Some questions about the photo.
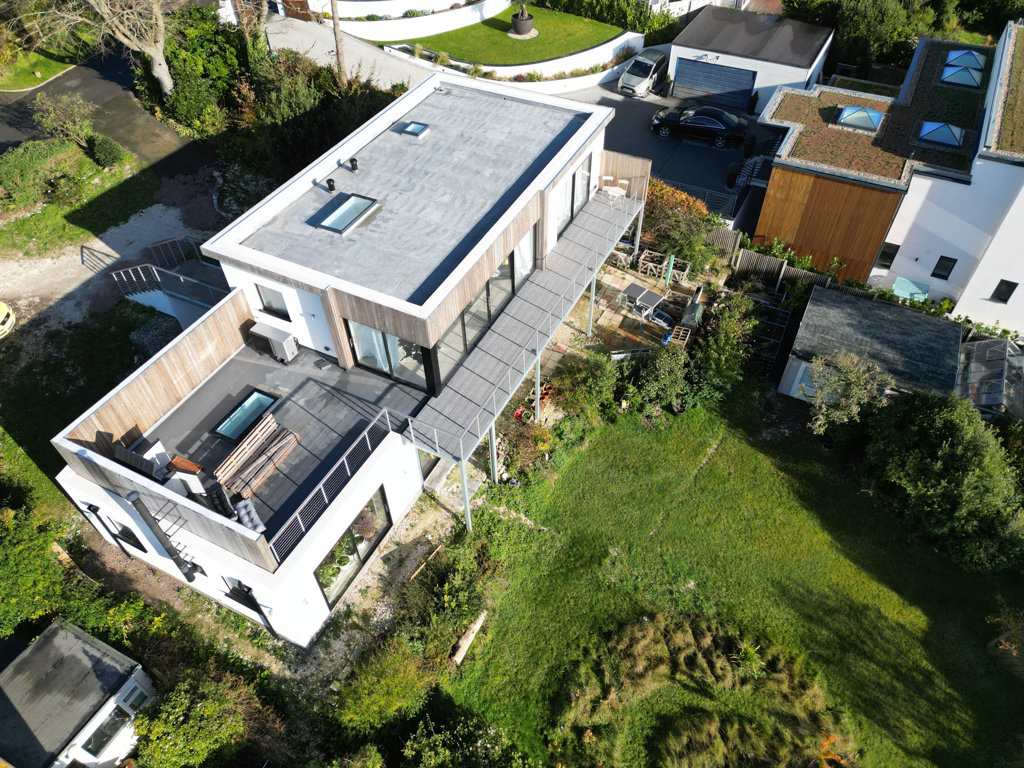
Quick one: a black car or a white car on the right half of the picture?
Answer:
black car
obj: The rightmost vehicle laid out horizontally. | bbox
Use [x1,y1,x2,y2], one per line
[652,103,758,147]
